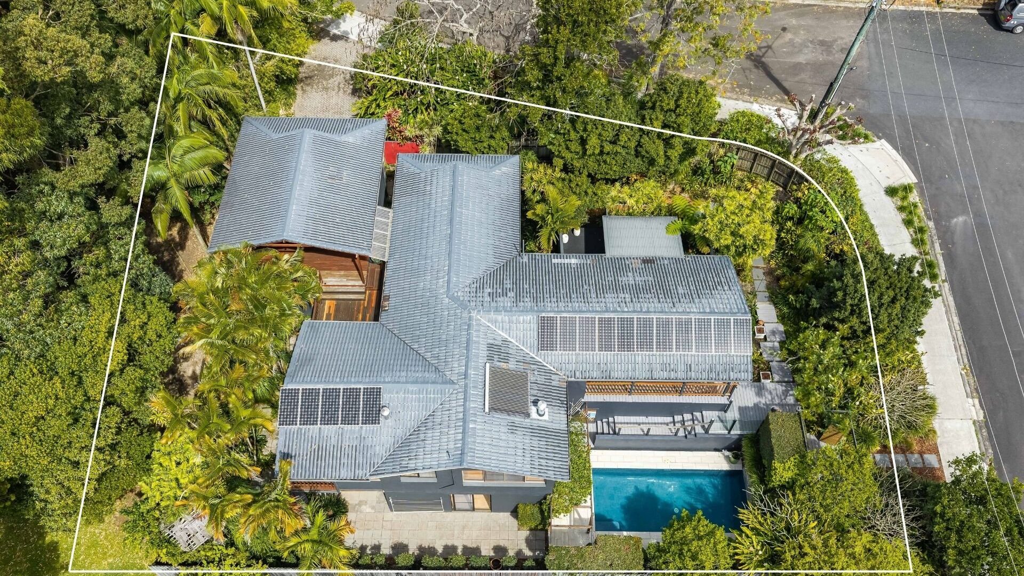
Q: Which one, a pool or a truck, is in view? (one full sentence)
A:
The one in the frame is a pool.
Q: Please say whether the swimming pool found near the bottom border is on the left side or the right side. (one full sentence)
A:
It is on the right.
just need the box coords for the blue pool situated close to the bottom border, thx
[582,449,757,551]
